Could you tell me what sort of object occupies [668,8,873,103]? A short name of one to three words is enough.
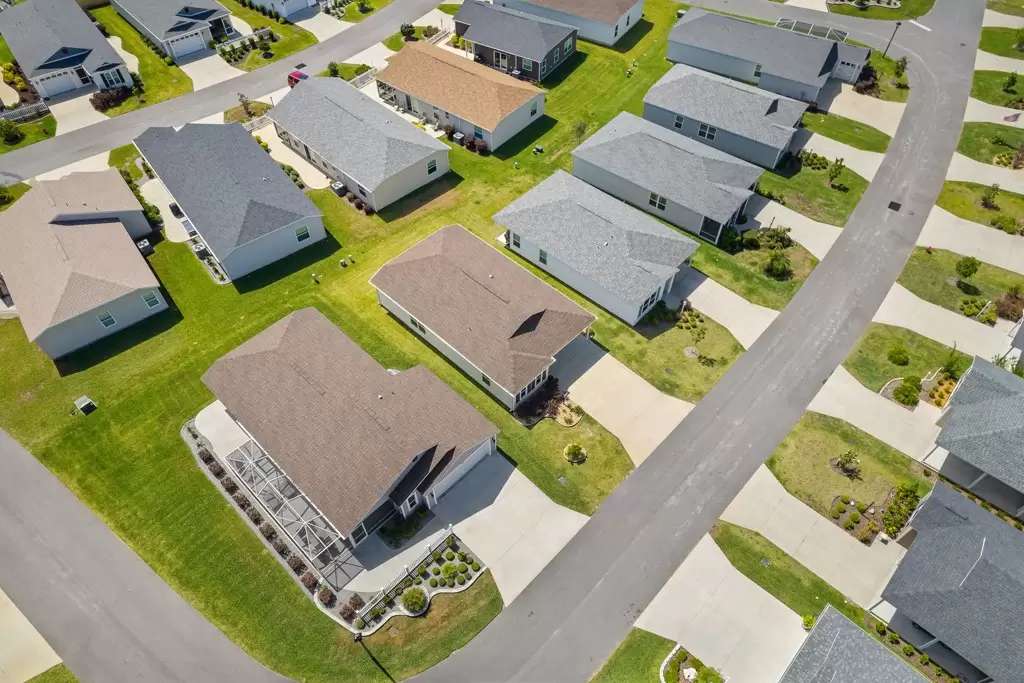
house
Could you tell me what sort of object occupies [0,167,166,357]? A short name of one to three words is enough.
house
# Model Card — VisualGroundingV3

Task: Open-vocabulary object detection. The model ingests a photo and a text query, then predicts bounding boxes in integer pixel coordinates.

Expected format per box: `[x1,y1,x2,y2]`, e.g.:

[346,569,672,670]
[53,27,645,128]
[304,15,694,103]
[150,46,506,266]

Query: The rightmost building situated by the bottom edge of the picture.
[869,487,1024,683]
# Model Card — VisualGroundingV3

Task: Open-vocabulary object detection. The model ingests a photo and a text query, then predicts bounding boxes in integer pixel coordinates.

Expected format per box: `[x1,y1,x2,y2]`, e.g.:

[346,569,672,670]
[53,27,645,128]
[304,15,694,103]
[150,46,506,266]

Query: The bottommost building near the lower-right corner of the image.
[773,604,927,683]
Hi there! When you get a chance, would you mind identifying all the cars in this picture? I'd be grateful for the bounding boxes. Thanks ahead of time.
[286,70,311,88]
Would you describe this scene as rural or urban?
urban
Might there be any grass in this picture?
Yes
